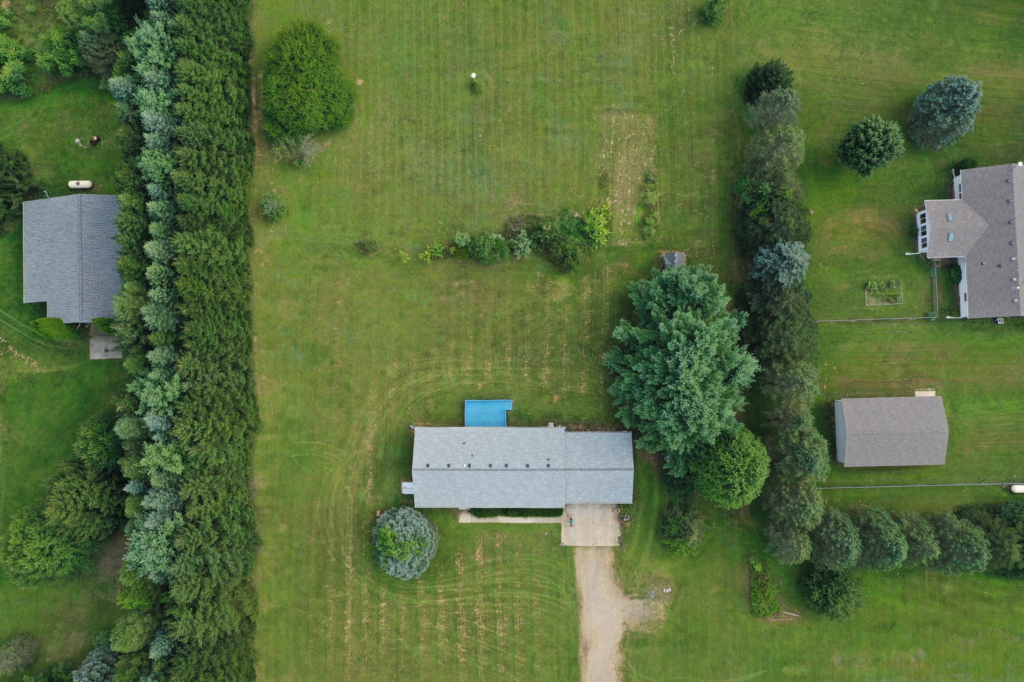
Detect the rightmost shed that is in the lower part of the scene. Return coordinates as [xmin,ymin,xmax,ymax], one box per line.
[834,395,951,468]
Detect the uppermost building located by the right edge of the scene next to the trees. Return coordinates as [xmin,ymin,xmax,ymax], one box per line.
[900,162,1024,319]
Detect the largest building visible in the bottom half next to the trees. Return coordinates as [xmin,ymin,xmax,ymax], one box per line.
[412,427,635,508]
